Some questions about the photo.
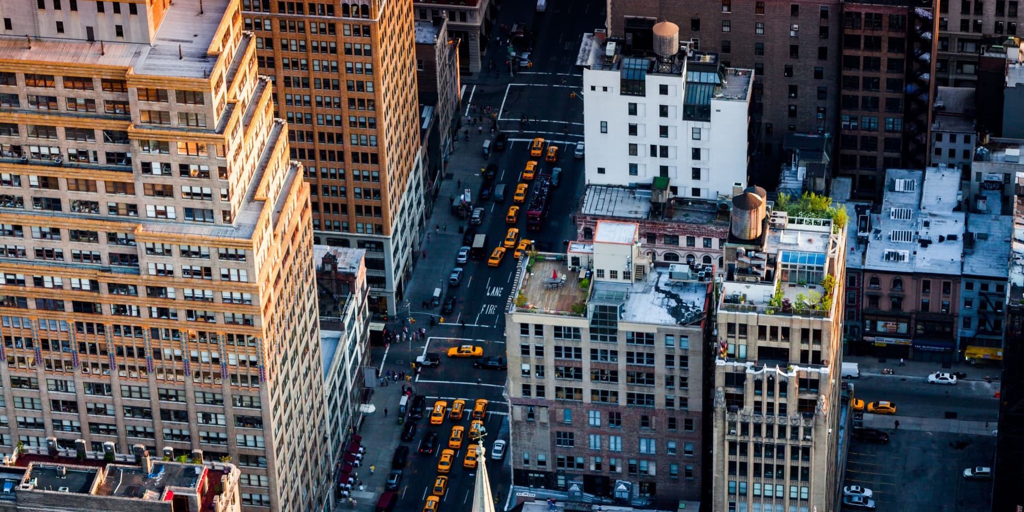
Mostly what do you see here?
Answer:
buildings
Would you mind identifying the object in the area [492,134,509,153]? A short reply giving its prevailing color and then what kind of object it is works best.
black car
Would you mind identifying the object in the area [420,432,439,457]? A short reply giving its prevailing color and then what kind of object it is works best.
black car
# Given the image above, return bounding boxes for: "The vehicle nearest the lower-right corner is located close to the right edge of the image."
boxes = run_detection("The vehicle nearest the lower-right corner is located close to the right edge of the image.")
[961,465,994,482]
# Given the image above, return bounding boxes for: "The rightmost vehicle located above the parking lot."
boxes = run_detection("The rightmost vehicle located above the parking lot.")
[924,372,959,387]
